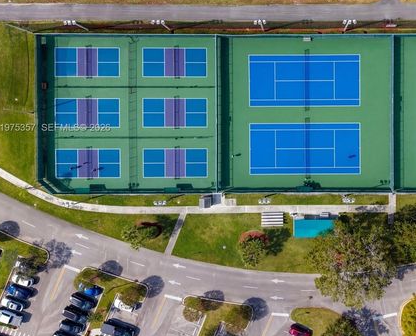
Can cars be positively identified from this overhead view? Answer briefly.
Yes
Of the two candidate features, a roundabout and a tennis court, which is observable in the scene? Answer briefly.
tennis court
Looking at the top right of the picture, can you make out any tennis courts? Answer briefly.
Yes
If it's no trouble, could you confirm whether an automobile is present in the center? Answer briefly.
No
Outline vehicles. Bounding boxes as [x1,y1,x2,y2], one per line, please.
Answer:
[6,284,32,301]
[1,297,26,314]
[62,306,89,323]
[71,292,96,309]
[80,284,102,296]
[12,273,36,289]
[0,309,23,329]
[290,323,311,336]
[101,321,133,336]
[114,296,136,314]
[61,319,85,335]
